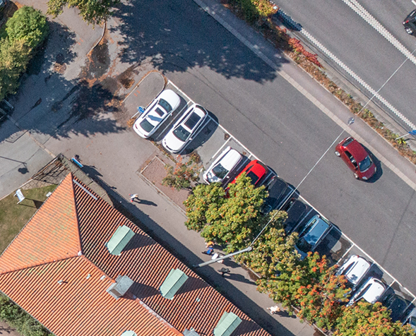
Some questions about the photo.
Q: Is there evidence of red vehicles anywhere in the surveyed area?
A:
Yes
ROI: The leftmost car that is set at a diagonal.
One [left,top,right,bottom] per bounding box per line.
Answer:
[130,87,182,139]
